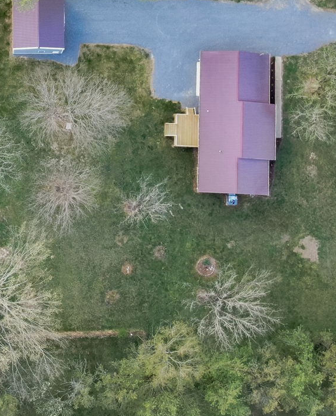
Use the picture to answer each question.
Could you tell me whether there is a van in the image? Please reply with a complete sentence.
No, there is no van in the image.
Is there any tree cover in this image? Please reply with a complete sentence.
Yes, there is tree cover in the image.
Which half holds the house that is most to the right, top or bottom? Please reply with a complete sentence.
The house that is most to the right sits in the top half of the picture.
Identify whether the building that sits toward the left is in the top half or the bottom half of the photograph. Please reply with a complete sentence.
It is in the top half that the building that sits toward the left appears.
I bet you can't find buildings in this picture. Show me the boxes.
[12,0,64,53]
[164,49,277,193]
